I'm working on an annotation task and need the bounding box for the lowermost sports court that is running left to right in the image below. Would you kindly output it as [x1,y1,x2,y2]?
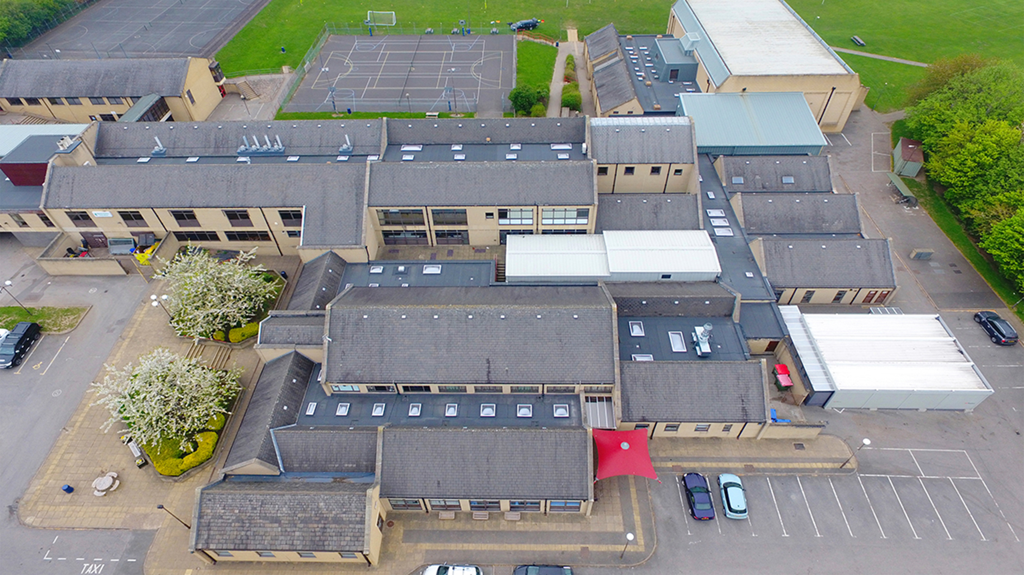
[281,35,513,117]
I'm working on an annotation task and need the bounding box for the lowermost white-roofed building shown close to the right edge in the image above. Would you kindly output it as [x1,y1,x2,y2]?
[801,313,997,411]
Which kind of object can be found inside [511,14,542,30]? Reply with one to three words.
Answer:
car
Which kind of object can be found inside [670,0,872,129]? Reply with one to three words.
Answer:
building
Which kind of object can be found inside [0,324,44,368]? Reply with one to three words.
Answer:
car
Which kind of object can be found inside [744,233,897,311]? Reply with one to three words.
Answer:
building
